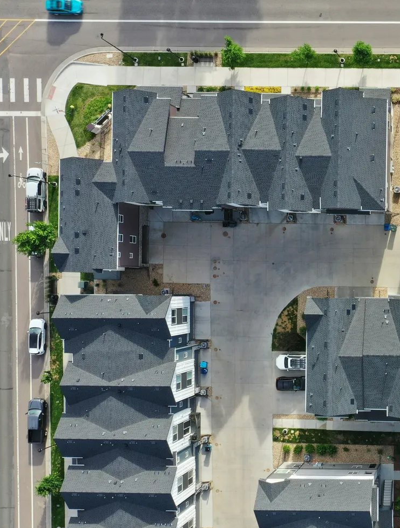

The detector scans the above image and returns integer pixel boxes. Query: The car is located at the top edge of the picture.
[42,0,80,16]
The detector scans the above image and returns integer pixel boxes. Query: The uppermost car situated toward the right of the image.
[276,353,306,372]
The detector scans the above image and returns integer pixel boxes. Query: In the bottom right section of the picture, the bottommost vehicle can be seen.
[277,374,306,394]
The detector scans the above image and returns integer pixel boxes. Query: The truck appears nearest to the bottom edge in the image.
[23,398,46,444]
